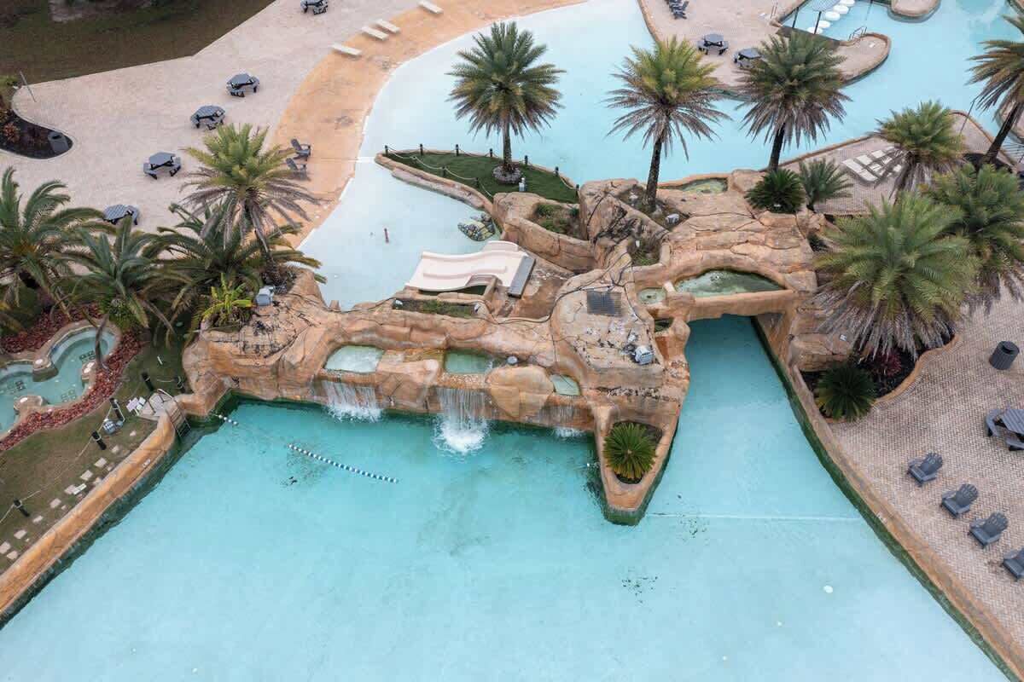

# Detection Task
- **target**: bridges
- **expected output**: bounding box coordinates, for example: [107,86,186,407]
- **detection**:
[636,169,830,330]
